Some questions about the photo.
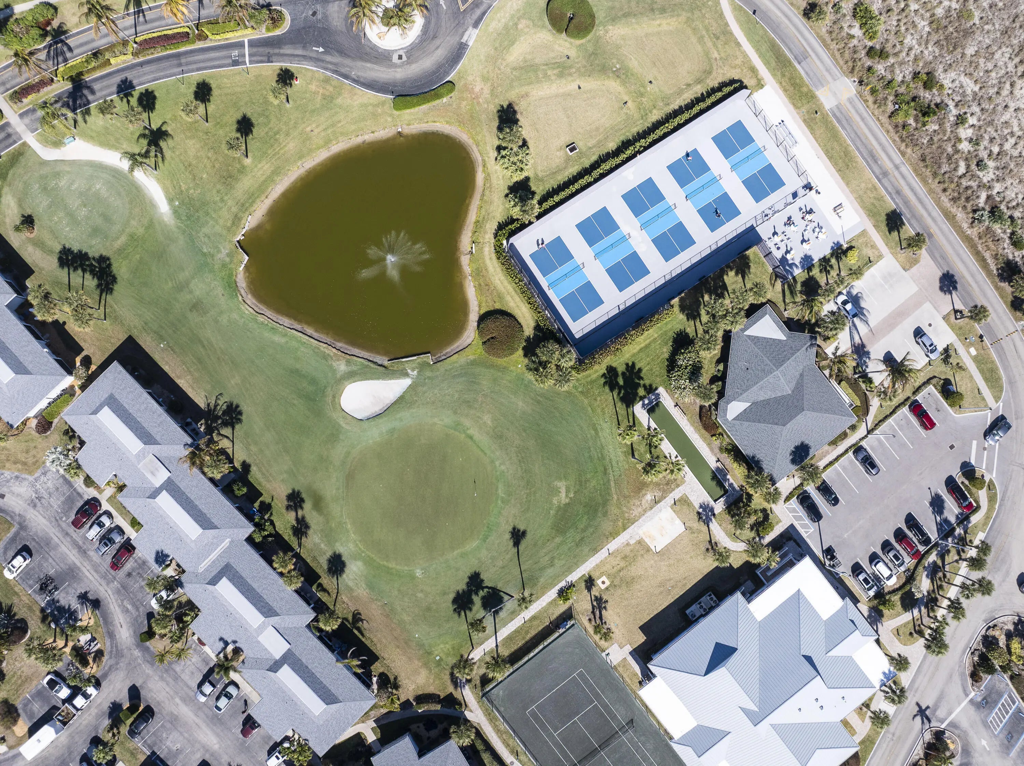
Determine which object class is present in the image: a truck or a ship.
truck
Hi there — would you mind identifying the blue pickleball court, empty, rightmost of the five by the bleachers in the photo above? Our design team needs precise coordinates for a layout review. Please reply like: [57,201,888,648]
[711,118,786,204]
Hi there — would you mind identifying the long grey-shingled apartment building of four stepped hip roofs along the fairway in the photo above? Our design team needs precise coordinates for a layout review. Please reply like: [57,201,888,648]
[62,361,385,754]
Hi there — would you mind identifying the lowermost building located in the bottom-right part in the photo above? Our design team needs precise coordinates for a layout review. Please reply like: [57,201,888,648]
[638,555,898,766]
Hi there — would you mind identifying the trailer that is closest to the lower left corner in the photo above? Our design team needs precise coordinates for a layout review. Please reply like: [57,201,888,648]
[19,714,74,761]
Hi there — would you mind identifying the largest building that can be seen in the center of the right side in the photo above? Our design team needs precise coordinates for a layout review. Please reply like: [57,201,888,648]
[716,304,858,487]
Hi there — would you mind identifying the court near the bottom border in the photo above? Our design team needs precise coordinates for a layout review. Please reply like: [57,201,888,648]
[485,624,685,766]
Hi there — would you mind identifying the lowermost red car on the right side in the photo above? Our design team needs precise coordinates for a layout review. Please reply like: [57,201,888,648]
[896,533,922,561]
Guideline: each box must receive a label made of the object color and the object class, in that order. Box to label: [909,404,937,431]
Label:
red car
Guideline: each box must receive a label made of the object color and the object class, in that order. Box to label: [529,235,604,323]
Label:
blue sports court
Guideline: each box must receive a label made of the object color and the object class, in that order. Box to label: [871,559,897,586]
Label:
white car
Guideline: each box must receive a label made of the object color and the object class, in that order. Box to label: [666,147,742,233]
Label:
blue sports court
